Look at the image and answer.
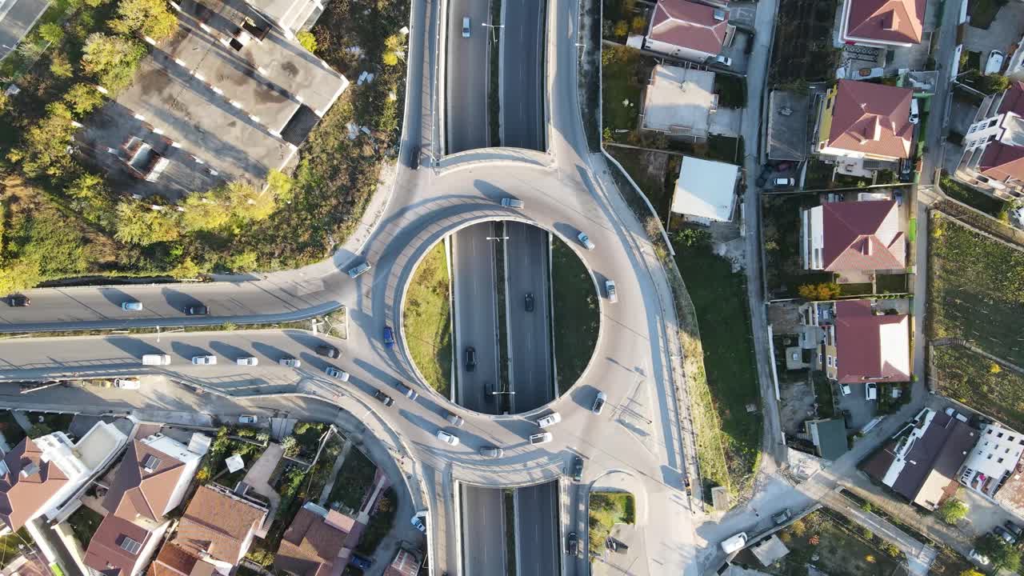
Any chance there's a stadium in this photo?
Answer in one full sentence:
No, no stadium is visible in the scene.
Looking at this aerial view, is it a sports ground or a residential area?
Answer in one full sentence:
What you see here is a residential area.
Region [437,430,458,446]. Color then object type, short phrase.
white car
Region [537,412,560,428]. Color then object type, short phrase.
white car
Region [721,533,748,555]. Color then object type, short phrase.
white vehicle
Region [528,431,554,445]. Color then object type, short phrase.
white vehicle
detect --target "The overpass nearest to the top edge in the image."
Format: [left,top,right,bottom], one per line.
[438,149,562,179]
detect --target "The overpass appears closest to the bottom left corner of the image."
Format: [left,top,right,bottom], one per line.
[445,454,568,486]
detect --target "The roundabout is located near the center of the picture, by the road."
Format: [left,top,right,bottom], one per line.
[349,166,653,468]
